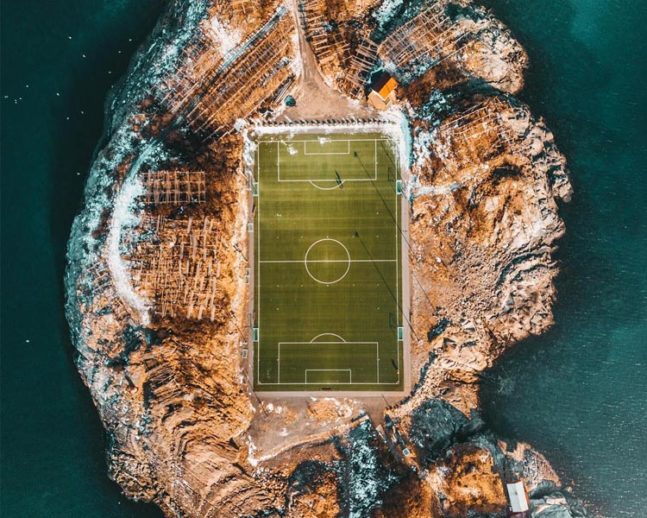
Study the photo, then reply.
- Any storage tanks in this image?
No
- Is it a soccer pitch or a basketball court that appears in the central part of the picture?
soccer pitch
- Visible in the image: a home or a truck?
home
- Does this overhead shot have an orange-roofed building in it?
Yes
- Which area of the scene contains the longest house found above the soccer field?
top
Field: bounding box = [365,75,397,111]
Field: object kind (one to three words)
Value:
house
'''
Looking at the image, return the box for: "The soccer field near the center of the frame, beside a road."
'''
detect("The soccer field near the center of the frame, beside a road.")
[253,133,404,391]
